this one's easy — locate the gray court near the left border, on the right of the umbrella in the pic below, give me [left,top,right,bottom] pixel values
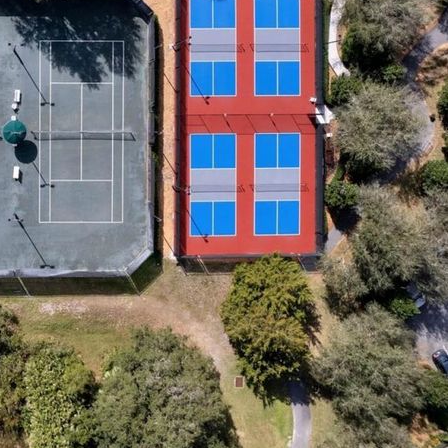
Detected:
[15,0,149,271]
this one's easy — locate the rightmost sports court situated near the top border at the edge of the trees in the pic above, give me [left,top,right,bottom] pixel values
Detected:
[245,0,315,114]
